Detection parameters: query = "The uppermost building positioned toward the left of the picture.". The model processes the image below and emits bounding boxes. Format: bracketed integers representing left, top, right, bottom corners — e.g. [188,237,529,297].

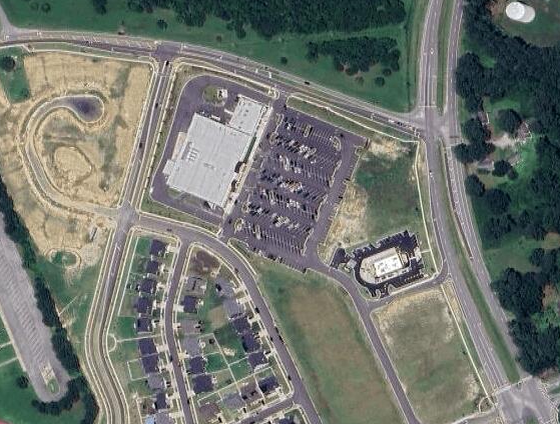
[163,96,270,209]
